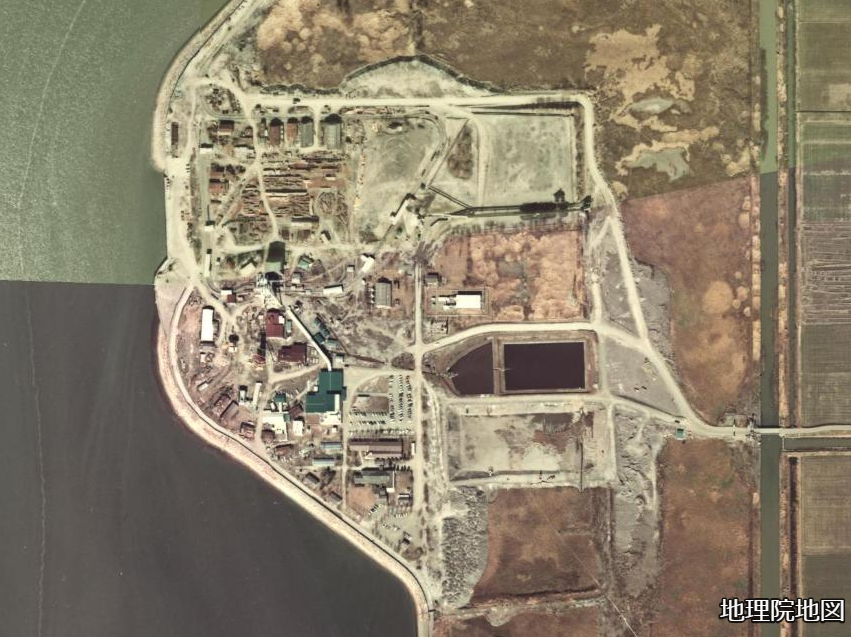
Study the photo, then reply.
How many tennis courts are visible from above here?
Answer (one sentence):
The photo contains no tennis courts.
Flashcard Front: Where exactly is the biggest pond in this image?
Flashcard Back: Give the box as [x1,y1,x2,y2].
[504,343,585,390]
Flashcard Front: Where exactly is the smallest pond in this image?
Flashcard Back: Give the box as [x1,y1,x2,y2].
[448,343,494,394]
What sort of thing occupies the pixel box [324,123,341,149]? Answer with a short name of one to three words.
building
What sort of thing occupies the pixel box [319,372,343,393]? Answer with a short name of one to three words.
building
